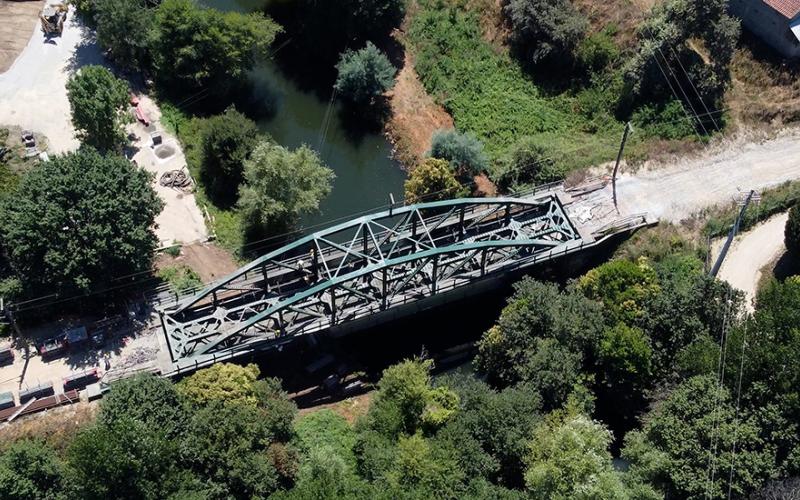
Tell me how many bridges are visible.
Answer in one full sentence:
I count just 1 bridge.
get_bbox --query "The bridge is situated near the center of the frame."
[126,174,616,392]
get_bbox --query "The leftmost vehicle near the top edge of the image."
[34,0,67,47]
